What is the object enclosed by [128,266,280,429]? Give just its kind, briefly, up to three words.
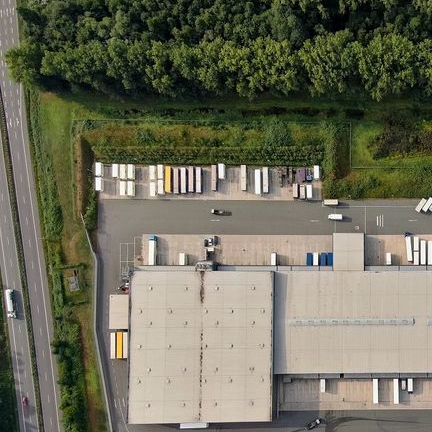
warehouse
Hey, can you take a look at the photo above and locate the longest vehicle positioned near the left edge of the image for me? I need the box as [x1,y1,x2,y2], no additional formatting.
[7,288,20,318]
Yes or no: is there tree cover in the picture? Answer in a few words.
Yes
